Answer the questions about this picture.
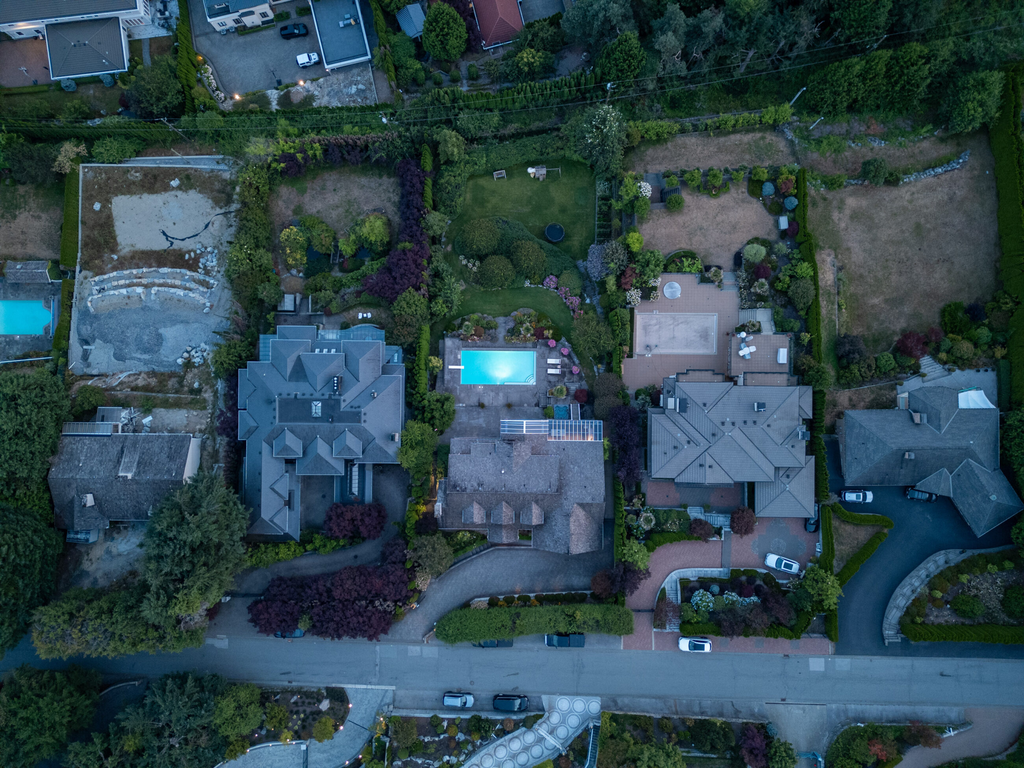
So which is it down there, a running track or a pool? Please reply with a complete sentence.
This aerial view contains a pool.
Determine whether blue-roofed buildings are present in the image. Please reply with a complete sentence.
Yes, the picture does show a blue-roofed building.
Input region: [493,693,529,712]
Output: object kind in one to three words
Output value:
car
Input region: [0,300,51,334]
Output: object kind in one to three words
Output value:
swimming pool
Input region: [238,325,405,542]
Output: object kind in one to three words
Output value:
house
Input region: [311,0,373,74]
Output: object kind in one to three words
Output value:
building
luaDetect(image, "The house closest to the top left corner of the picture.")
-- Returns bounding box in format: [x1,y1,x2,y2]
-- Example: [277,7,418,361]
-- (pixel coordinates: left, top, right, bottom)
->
[0,0,165,83]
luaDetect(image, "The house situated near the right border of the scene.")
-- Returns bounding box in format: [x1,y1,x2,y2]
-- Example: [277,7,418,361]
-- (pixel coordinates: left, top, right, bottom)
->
[832,387,1024,538]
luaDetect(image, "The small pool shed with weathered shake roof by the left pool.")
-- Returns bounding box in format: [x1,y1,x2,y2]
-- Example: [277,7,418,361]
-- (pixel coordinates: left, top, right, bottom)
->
[1,260,58,283]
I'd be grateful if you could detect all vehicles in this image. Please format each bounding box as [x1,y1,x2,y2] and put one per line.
[802,503,820,535]
[764,553,801,575]
[290,50,324,71]
[677,636,712,653]
[274,625,306,641]
[493,693,529,712]
[473,632,514,651]
[903,486,940,505]
[839,488,874,505]
[443,690,475,709]
[544,631,586,650]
